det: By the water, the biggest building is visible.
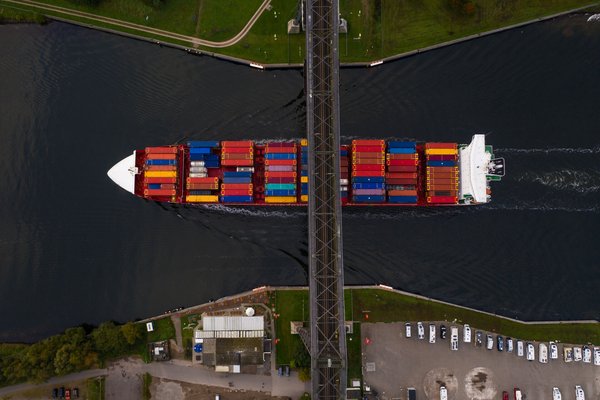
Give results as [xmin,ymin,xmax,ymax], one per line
[196,314,272,374]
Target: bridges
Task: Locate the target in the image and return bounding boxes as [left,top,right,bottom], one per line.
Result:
[288,0,355,400]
